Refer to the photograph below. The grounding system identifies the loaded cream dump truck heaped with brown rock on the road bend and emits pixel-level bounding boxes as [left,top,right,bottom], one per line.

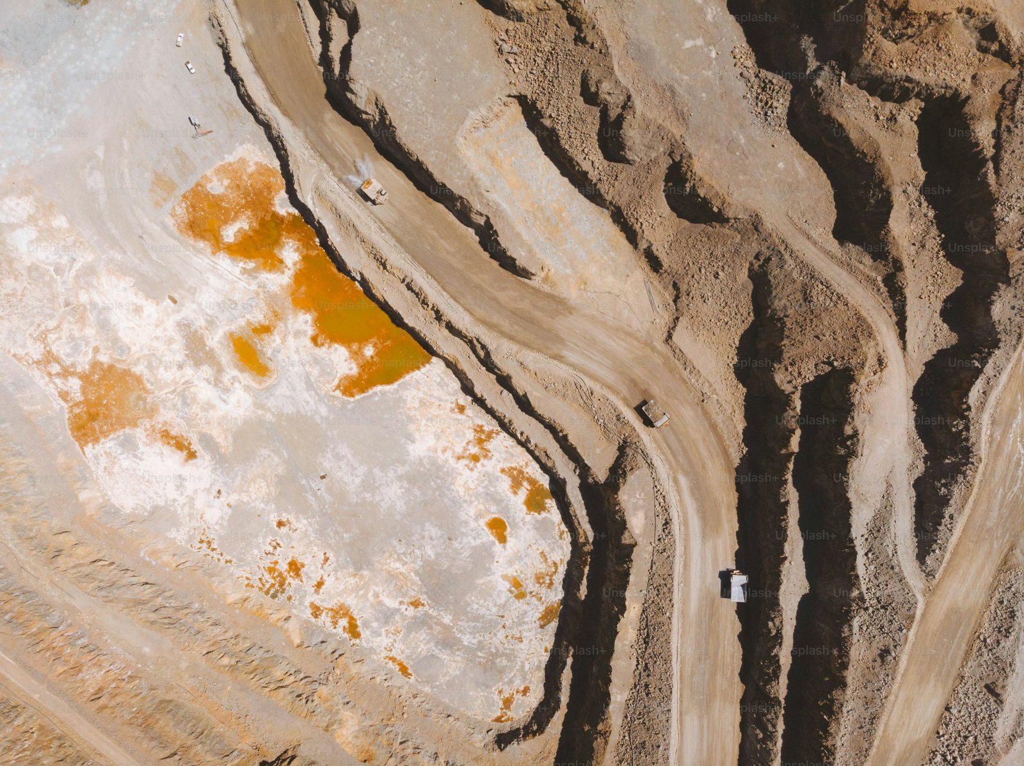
[643,399,670,429]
